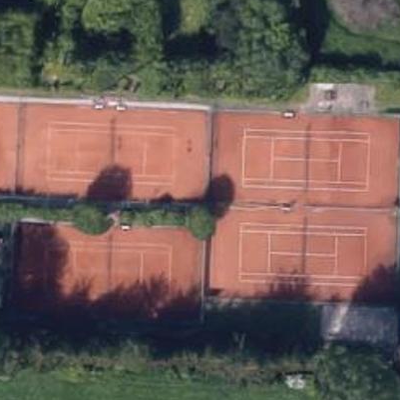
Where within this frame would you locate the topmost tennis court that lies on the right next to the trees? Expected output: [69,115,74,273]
[211,110,400,210]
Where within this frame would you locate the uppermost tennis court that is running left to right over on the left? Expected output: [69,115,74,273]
[17,103,213,202]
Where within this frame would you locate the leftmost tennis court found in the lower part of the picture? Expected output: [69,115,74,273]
[14,222,206,324]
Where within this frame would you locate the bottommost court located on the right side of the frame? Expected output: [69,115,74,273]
[208,205,399,304]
